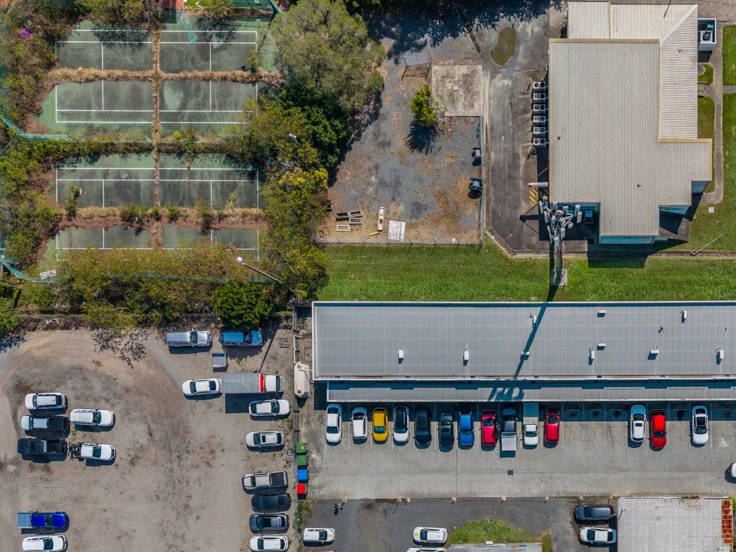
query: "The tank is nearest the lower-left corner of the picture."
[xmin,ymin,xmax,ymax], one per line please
[296,364,314,397]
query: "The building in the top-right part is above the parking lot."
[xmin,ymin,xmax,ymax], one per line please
[546,0,714,242]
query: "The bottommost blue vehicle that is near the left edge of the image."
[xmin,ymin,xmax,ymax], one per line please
[16,511,68,531]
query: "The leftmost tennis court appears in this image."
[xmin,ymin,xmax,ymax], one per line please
[12,0,279,280]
